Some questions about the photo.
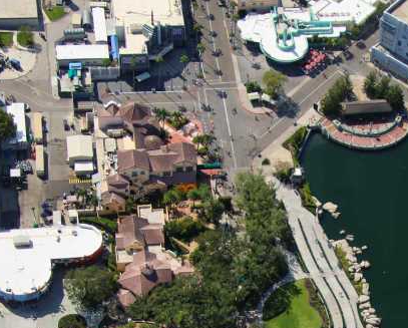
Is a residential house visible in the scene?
Yes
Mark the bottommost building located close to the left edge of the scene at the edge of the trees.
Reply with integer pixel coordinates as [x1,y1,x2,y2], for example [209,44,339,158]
[0,225,103,304]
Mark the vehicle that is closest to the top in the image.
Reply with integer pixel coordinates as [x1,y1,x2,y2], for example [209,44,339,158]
[69,0,83,12]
